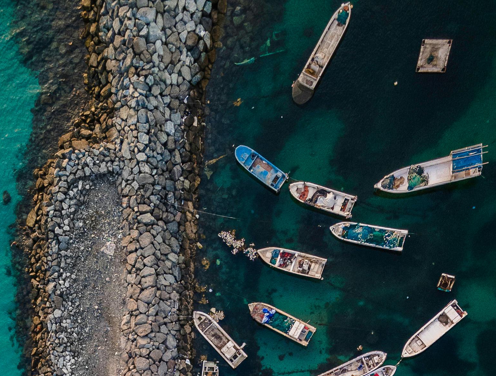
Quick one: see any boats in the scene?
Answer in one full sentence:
Yes, I can see a boat in this picture.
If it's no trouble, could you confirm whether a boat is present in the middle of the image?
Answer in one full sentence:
Yes, a boat appears in the middle of the image.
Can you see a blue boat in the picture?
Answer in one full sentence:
Yes, the frame does contain a blue boat.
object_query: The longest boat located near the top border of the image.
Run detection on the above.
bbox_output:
[294,1,350,101]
